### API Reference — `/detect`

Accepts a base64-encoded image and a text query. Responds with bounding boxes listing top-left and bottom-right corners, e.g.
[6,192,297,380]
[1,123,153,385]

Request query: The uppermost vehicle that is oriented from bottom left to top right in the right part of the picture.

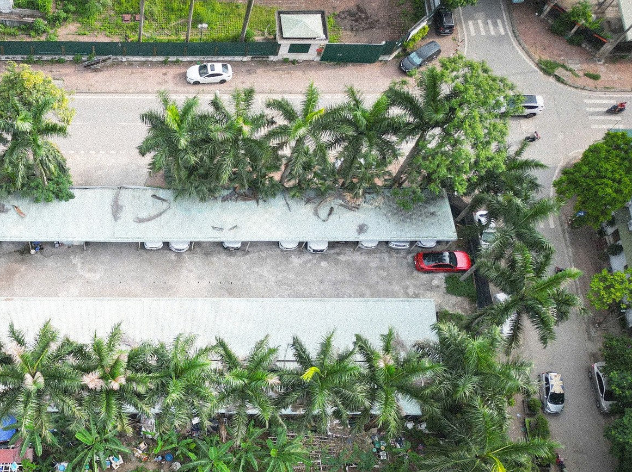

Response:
[399,34,444,74]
